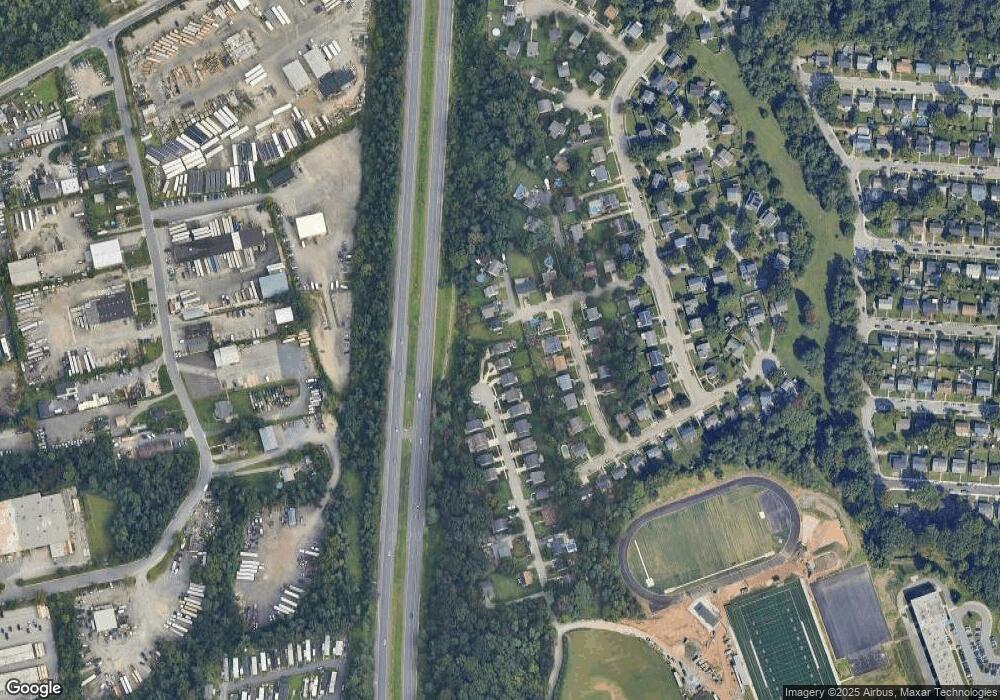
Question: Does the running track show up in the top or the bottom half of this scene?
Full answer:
You can find the running track in the bottom half.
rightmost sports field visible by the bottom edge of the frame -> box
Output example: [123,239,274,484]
[726,579,842,700]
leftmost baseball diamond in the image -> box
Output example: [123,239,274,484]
[562,630,674,700]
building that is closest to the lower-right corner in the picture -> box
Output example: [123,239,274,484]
[912,591,979,700]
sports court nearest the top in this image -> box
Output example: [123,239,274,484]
[811,565,892,658]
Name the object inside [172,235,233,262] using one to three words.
building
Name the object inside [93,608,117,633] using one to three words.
building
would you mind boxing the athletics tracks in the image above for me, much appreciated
[613,474,802,612]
